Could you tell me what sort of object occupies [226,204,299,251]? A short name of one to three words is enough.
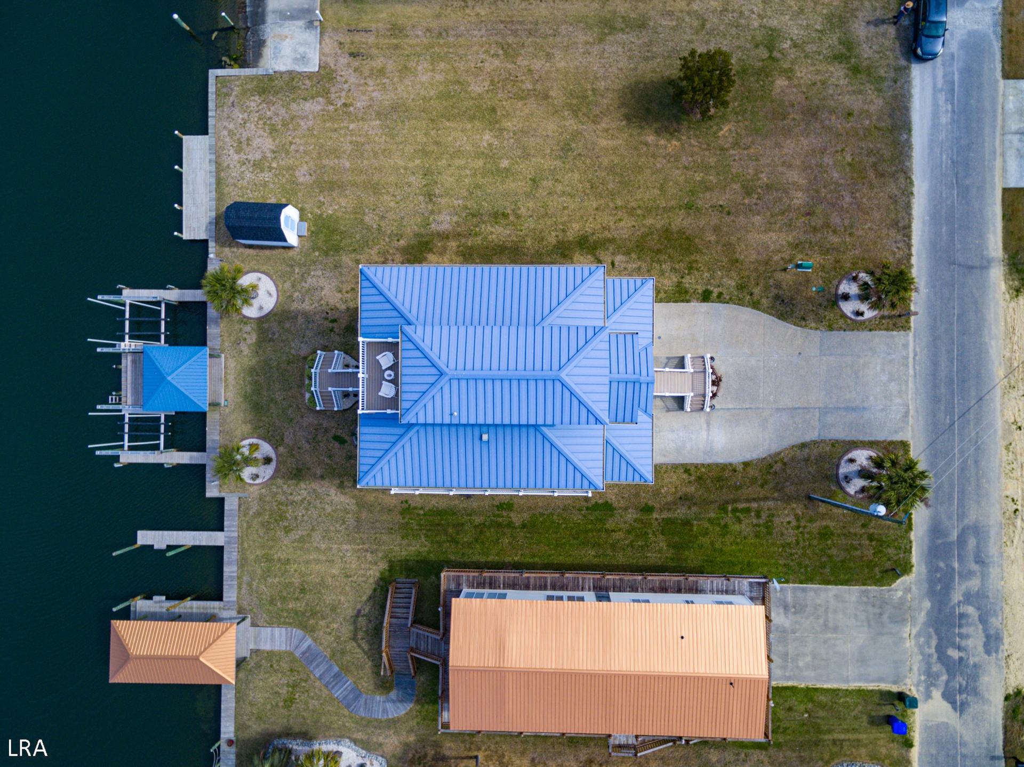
shed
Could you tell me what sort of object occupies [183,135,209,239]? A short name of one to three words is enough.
pier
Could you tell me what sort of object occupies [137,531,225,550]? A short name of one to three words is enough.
pier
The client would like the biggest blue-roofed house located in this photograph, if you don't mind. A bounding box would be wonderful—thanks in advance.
[358,264,657,497]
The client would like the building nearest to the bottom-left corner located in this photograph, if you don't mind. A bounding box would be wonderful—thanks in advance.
[108,614,249,685]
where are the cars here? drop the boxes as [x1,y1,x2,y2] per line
[904,0,954,61]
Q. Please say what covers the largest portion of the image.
grass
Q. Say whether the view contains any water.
Yes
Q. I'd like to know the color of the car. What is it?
blue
